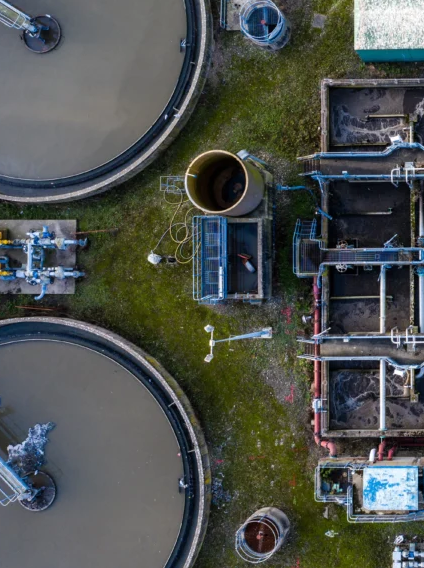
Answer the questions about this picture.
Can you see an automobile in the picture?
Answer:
No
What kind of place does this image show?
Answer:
industrial area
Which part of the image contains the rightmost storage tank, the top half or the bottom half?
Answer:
top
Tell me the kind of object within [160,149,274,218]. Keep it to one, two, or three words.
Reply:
storage tank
